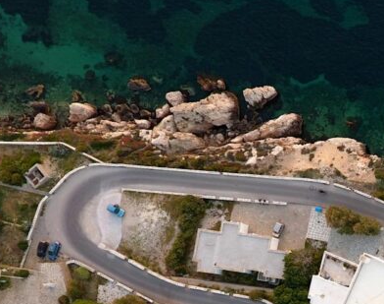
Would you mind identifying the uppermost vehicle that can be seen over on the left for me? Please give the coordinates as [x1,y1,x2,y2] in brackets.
[105,203,128,219]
